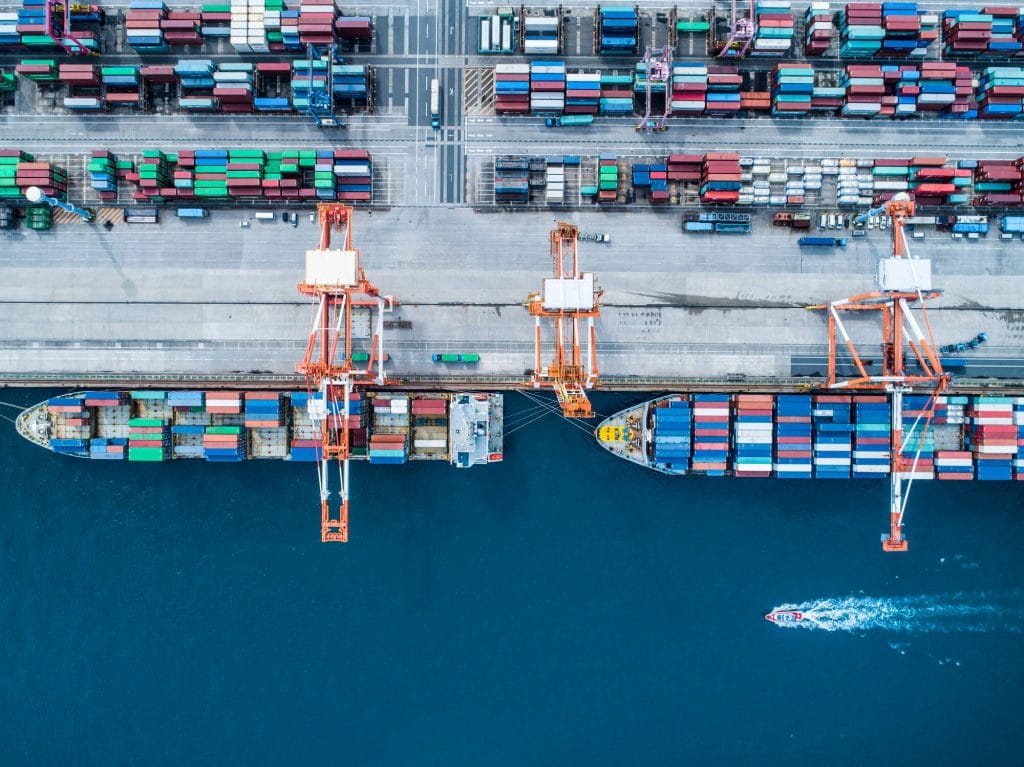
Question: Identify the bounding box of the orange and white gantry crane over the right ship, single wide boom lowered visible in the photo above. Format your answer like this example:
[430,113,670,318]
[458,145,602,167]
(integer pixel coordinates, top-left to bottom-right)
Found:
[812,202,953,550]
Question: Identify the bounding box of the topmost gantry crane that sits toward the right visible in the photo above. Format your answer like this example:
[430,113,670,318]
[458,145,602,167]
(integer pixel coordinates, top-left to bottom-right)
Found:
[717,0,756,58]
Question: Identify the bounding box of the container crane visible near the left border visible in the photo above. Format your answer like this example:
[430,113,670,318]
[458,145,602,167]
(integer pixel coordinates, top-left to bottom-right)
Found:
[44,0,95,54]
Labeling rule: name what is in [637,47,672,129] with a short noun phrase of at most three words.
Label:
container crane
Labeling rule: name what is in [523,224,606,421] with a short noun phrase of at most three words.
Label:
container crane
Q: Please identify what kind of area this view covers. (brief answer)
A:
port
